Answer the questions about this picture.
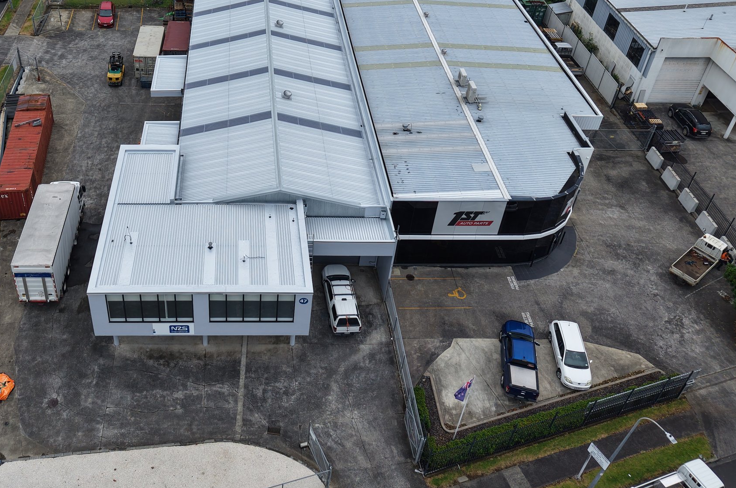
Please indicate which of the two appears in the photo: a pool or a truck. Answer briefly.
truck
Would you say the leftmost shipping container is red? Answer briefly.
Yes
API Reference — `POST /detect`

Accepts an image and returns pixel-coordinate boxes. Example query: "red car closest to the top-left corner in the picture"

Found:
[96,0,115,24]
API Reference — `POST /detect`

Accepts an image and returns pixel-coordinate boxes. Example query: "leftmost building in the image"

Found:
[85,0,399,346]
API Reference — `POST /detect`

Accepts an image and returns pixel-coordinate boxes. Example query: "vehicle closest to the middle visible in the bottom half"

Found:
[325,262,363,331]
